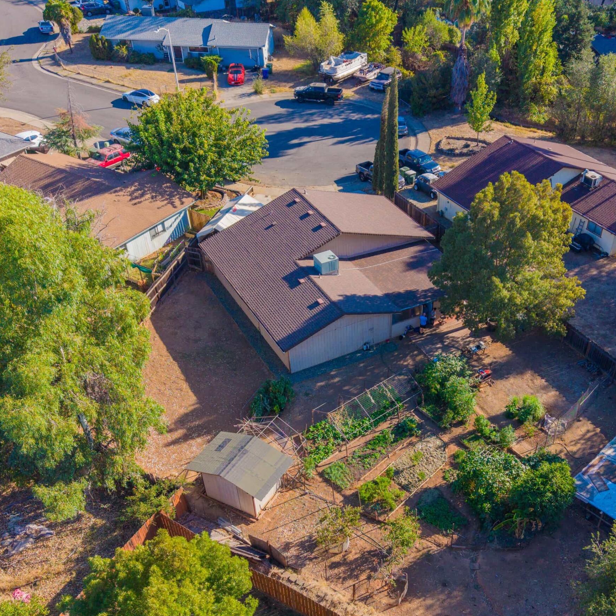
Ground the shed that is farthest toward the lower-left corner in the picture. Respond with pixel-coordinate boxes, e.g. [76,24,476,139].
[186,432,293,523]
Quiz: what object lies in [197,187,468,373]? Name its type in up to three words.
house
